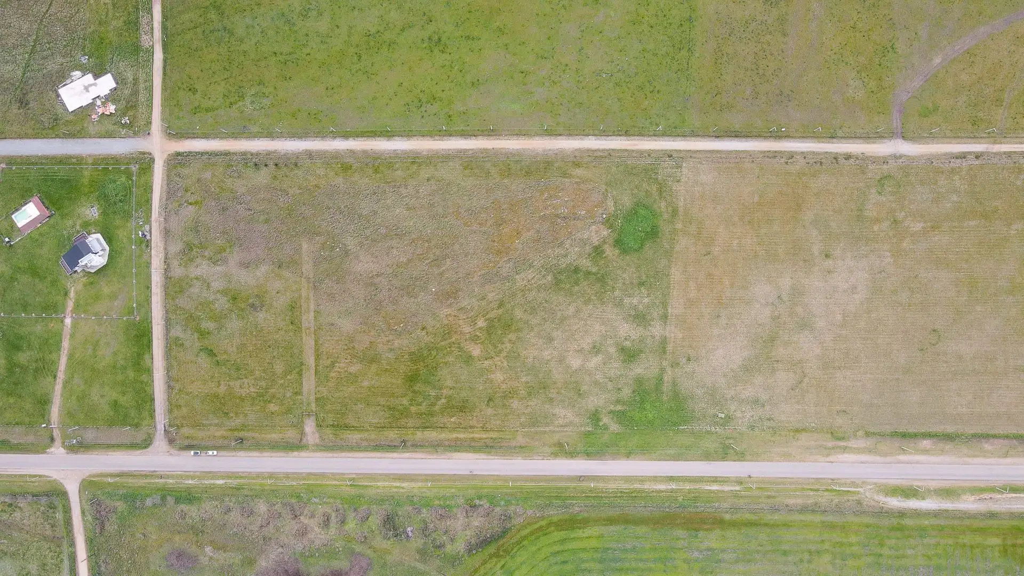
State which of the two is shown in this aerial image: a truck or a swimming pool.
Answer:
swimming pool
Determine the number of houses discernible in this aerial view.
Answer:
2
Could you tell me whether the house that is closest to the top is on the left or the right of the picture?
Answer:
left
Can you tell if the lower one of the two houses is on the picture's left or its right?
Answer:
left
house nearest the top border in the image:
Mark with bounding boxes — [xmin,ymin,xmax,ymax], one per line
[58,74,120,113]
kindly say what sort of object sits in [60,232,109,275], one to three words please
house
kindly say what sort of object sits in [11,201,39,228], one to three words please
swimming pool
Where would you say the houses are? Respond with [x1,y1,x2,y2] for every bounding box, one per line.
[58,74,120,113]
[60,232,109,275]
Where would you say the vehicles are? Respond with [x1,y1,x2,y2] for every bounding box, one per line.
[207,451,216,456]
[190,451,200,456]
